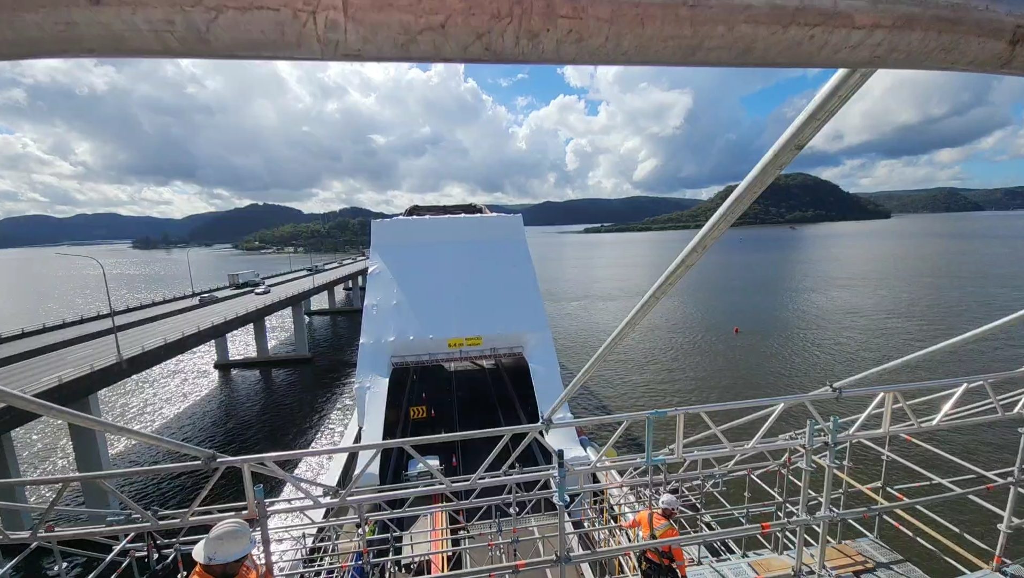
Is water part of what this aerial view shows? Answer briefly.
Yes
